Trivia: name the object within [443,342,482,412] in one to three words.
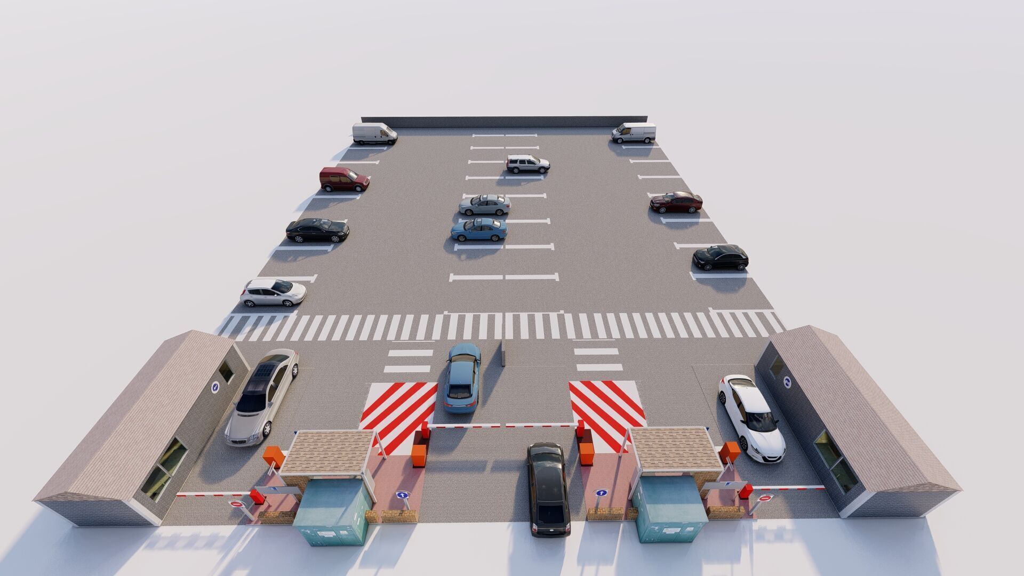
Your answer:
car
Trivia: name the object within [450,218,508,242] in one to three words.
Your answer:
car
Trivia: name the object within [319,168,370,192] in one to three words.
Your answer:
vehicle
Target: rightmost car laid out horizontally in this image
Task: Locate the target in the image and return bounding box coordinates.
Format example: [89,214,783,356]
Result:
[692,245,749,270]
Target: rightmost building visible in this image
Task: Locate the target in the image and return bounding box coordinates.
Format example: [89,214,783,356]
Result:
[756,325,964,518]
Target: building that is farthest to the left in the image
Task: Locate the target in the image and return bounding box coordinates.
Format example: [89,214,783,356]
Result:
[30,329,252,528]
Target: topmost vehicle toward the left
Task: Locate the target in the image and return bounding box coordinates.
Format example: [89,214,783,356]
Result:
[352,122,399,145]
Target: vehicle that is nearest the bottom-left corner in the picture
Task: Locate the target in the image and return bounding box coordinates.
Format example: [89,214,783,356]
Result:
[223,349,301,448]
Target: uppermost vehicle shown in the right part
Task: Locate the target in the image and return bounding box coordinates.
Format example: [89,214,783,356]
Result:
[611,123,657,144]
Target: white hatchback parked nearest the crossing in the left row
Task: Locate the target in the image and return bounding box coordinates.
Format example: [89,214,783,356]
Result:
[239,279,307,308]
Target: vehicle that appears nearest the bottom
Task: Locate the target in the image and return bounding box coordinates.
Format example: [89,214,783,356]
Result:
[525,443,573,539]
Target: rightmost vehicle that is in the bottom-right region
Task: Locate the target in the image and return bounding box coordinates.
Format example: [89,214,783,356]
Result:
[718,375,789,465]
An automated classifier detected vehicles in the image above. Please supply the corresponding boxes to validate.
[223,349,301,448]
[718,375,789,465]
[650,192,703,213]
[286,219,350,243]
[507,153,551,174]
[352,122,399,145]
[319,168,370,192]
[239,279,307,308]
[611,123,657,144]
[443,342,482,412]
[450,218,508,242]
[692,245,749,270]
[525,443,573,539]
[458,194,512,216]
